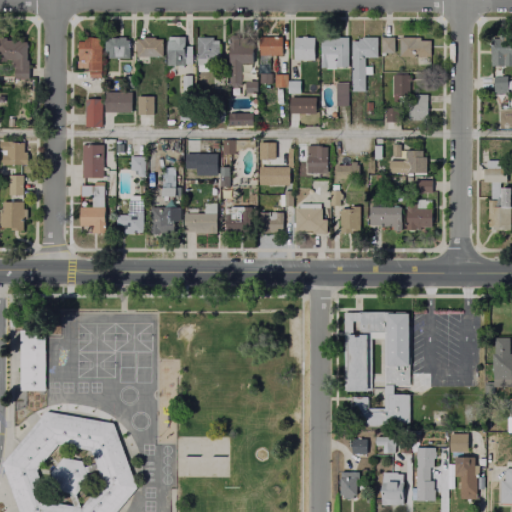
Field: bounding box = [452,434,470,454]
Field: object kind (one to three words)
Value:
building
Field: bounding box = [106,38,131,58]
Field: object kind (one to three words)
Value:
house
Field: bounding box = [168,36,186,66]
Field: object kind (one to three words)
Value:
house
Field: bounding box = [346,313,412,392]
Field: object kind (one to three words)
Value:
building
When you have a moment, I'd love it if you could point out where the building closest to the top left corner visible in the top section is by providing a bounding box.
[0,38,29,79]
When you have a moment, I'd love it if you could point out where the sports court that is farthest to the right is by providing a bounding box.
[178,437,230,478]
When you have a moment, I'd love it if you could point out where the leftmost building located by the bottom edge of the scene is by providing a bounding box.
[2,411,137,512]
